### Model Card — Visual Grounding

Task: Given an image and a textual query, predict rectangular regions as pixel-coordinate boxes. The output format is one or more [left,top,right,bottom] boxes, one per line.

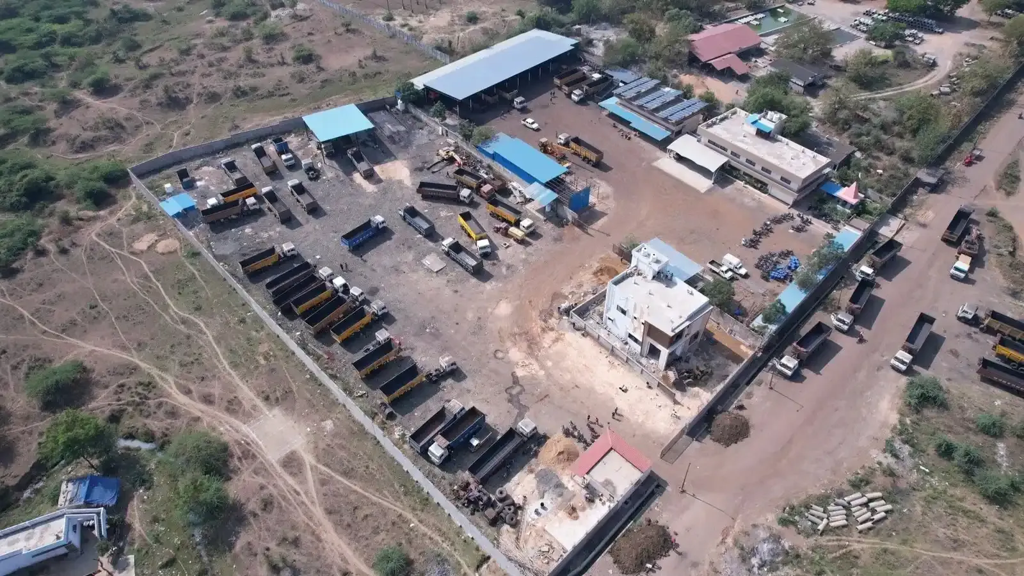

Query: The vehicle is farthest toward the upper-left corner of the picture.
[175,167,196,192]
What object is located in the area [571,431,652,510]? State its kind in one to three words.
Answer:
building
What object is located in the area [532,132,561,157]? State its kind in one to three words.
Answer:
work vehicle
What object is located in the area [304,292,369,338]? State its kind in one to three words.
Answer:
truck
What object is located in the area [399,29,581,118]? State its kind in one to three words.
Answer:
shed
